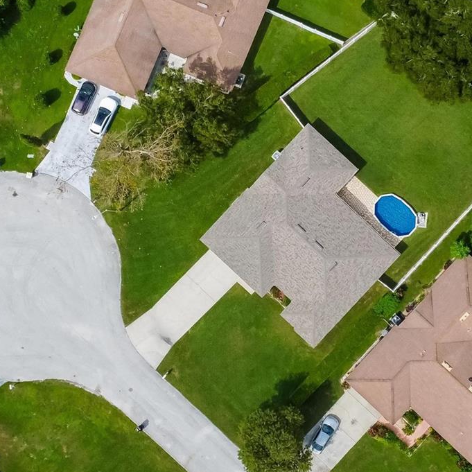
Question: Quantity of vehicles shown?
3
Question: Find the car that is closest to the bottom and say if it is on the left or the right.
right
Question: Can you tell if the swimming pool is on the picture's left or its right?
right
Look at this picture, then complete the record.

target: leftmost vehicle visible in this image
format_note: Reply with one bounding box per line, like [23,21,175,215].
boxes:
[71,79,99,118]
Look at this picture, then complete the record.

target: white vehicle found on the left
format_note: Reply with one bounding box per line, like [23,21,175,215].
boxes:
[91,95,118,136]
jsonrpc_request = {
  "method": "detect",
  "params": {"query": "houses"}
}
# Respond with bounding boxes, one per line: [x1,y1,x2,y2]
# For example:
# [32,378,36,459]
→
[346,254,472,463]
[65,0,270,99]
[199,123,401,348]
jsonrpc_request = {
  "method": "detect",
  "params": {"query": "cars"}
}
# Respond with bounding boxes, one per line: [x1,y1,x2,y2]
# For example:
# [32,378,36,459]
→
[71,79,99,118]
[91,95,118,136]
[312,414,339,455]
